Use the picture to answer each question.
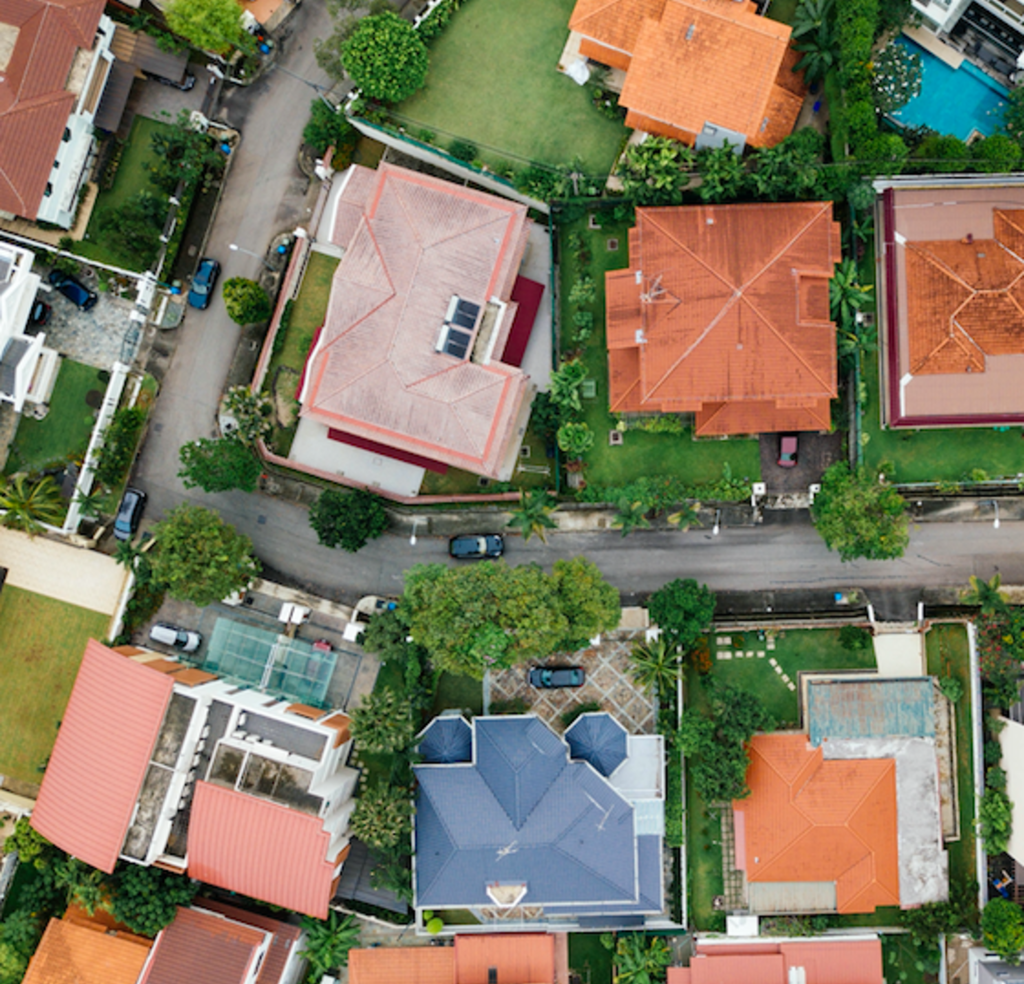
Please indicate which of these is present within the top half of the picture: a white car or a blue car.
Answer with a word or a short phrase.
blue car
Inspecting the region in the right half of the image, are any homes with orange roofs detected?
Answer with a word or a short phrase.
Yes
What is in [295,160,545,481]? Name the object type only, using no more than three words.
house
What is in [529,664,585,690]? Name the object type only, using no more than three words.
car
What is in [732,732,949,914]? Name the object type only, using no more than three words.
house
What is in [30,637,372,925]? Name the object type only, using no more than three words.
building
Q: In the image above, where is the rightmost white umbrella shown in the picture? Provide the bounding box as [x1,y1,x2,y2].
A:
[568,61,590,88]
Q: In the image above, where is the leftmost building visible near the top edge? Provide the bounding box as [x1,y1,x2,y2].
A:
[0,0,129,232]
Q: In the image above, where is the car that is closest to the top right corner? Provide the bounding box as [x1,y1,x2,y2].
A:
[775,431,800,469]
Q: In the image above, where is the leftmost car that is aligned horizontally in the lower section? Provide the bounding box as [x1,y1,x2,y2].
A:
[146,620,205,653]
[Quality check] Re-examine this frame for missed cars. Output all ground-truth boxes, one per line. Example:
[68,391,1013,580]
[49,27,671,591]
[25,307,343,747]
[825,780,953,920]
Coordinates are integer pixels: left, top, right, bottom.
[113,485,149,541]
[135,68,193,94]
[775,431,800,469]
[448,533,504,559]
[187,256,221,311]
[47,269,103,311]
[529,664,585,690]
[29,299,55,325]
[146,620,205,653]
